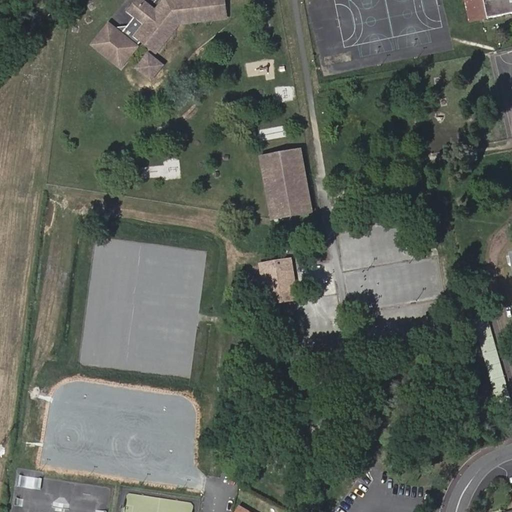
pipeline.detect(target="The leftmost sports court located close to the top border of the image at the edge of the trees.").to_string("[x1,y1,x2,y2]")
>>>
[308,0,454,76]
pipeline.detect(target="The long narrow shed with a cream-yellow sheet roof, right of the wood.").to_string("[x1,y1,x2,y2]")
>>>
[480,324,508,396]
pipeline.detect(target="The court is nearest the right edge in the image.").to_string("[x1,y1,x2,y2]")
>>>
[486,50,512,141]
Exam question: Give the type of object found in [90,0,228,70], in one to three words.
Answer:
building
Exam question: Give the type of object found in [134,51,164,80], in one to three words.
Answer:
building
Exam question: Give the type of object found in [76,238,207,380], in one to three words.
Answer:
sports court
